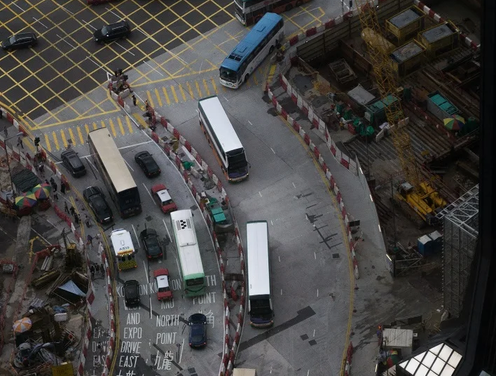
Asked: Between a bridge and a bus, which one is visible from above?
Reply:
bus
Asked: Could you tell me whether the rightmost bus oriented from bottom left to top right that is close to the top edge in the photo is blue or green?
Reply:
blue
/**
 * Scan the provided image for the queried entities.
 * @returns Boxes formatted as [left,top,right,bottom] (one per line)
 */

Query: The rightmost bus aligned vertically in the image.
[246,221,274,315]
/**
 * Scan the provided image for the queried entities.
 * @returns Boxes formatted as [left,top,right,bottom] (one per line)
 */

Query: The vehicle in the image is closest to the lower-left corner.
[122,278,140,306]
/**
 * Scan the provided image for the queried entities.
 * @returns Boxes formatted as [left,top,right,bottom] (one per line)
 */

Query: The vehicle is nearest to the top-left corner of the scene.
[2,31,35,49]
